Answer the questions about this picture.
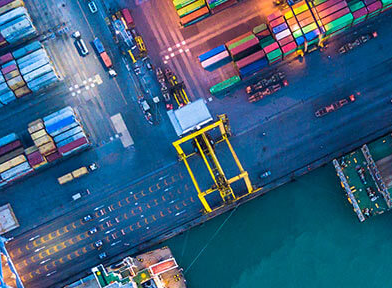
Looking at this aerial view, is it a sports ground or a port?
port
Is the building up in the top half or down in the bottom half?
bottom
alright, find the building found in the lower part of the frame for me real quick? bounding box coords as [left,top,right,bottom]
[0,204,25,236]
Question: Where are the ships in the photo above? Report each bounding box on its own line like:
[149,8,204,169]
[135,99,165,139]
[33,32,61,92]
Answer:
[62,247,191,288]
[336,130,392,227]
